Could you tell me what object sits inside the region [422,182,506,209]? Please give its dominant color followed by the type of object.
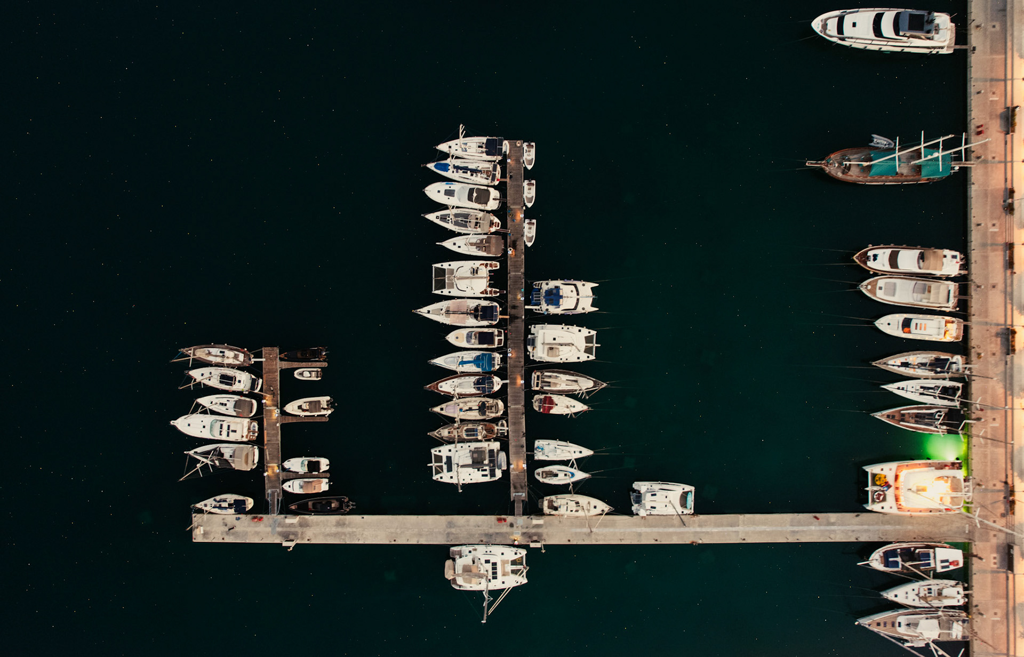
white boat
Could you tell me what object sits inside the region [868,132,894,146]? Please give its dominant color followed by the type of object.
gray boat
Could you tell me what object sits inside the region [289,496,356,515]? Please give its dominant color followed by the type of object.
black boat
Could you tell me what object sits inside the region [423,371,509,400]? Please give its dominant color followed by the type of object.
white boat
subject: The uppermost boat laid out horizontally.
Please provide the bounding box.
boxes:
[771,7,968,54]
